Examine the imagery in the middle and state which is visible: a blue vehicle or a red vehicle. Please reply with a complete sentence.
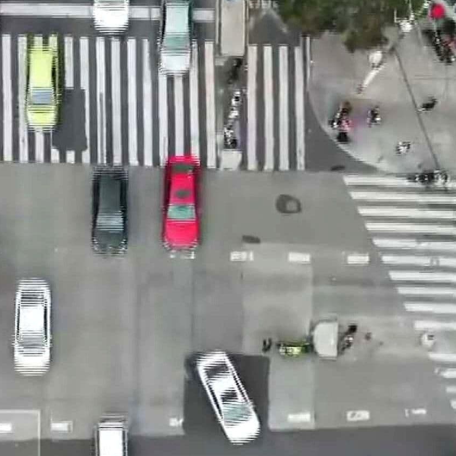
The one visible in the middle is a red vehicle.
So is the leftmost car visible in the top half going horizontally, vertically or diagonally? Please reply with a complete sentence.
In this picture, the leftmost car visible in the top half is oriented vertically.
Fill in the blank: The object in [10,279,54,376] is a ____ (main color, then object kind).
white car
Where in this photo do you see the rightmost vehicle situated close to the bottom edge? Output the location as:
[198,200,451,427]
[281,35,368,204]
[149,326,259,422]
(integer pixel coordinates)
[196,349,259,445]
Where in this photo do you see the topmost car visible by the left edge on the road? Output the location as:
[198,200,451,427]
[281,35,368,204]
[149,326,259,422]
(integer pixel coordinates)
[21,35,62,132]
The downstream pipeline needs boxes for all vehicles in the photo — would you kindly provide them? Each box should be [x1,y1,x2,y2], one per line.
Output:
[10,279,54,376]
[161,155,204,253]
[93,0,130,35]
[21,35,62,132]
[157,0,196,77]
[95,414,128,456]
[227,54,245,91]
[90,166,130,255]
[430,27,453,61]
[196,349,259,445]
